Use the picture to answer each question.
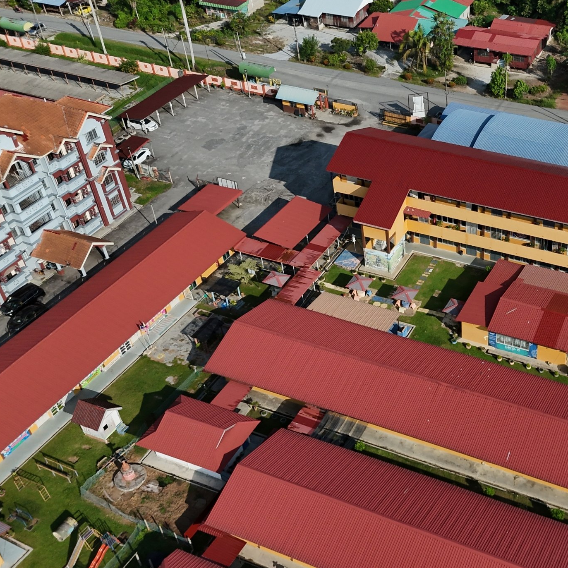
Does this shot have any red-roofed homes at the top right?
Yes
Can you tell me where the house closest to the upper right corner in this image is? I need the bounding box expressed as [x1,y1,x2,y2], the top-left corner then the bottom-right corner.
[451,12,558,70]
